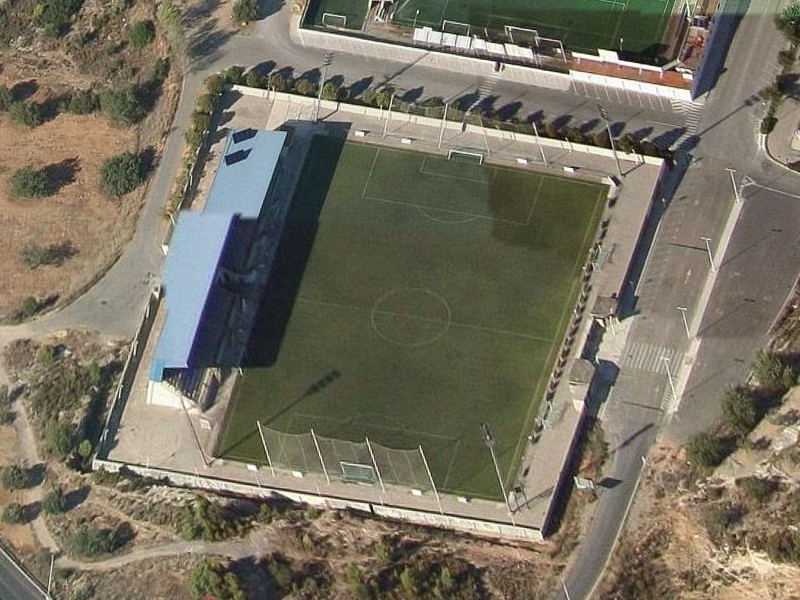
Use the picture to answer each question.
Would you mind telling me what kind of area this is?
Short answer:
sports ground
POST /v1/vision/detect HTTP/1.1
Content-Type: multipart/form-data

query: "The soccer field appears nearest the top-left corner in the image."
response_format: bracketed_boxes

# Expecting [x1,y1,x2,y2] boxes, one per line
[303,0,368,33]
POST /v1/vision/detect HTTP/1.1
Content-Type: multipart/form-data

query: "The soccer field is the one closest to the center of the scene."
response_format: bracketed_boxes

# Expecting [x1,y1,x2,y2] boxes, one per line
[213,135,616,503]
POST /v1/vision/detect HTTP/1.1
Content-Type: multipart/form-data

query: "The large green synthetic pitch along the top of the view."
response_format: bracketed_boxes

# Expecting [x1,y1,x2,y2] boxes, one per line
[393,0,688,70]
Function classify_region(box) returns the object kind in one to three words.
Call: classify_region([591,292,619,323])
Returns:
shed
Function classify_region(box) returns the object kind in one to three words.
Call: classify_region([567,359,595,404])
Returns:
shed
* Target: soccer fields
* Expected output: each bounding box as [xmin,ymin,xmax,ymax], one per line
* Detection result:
[213,135,616,503]
[393,0,688,70]
[303,0,368,33]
